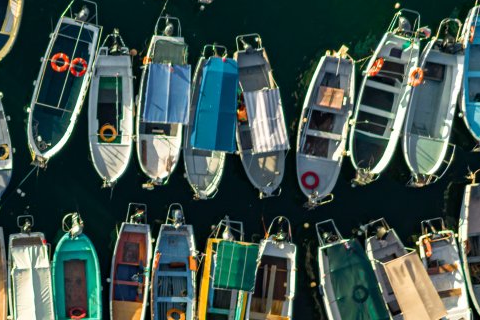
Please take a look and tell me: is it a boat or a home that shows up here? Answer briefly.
boat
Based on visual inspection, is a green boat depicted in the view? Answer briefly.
Yes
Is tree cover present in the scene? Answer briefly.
No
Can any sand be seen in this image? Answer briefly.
No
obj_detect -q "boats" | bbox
[109,202,153,320]
[0,98,14,199]
[296,55,355,205]
[400,18,465,189]
[150,202,198,320]
[9,211,54,320]
[28,0,102,166]
[251,215,301,320]
[0,227,8,320]
[87,28,135,188]
[461,166,480,315]
[418,214,477,320]
[351,8,421,182]
[234,30,291,199]
[140,16,191,188]
[201,217,262,320]
[184,35,239,204]
[364,215,451,320]
[316,219,391,320]
[49,213,102,320]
